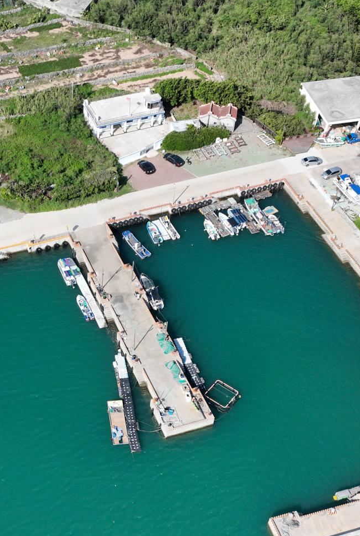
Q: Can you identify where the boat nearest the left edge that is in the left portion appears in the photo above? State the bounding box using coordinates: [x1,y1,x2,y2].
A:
[54,251,80,286]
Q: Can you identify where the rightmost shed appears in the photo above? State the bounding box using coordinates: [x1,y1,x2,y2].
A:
[299,76,360,137]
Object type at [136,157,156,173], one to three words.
car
